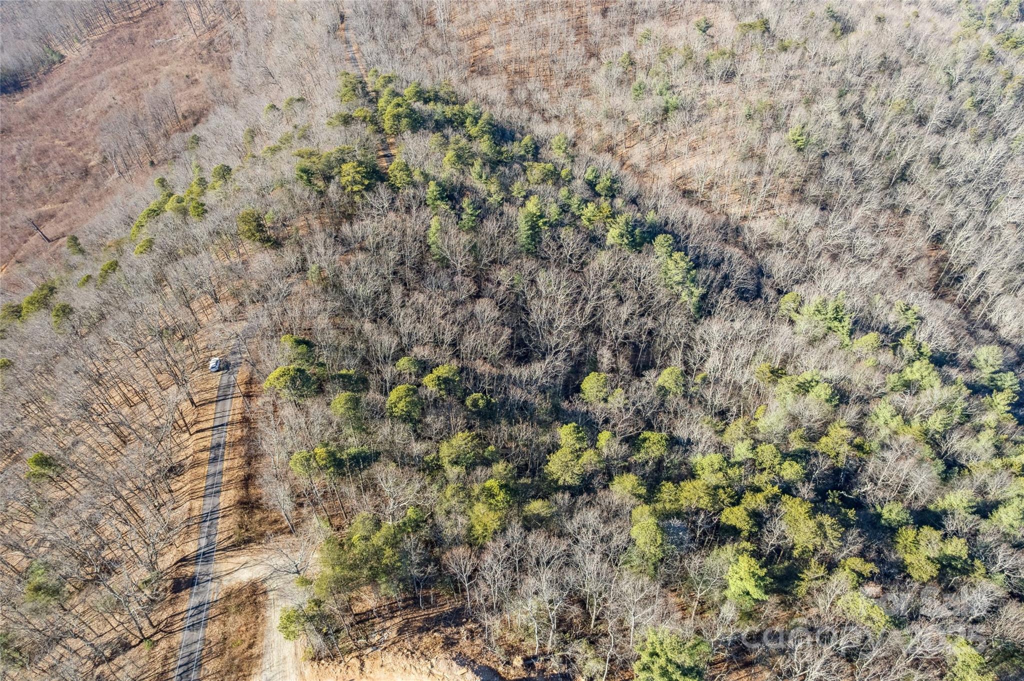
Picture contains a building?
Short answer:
No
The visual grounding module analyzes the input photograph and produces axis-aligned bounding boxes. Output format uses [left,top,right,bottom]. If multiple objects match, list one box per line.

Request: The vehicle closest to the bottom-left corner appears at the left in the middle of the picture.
[208,360,220,378]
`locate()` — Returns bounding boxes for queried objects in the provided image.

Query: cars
[385,150,392,160]
[208,360,220,378]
